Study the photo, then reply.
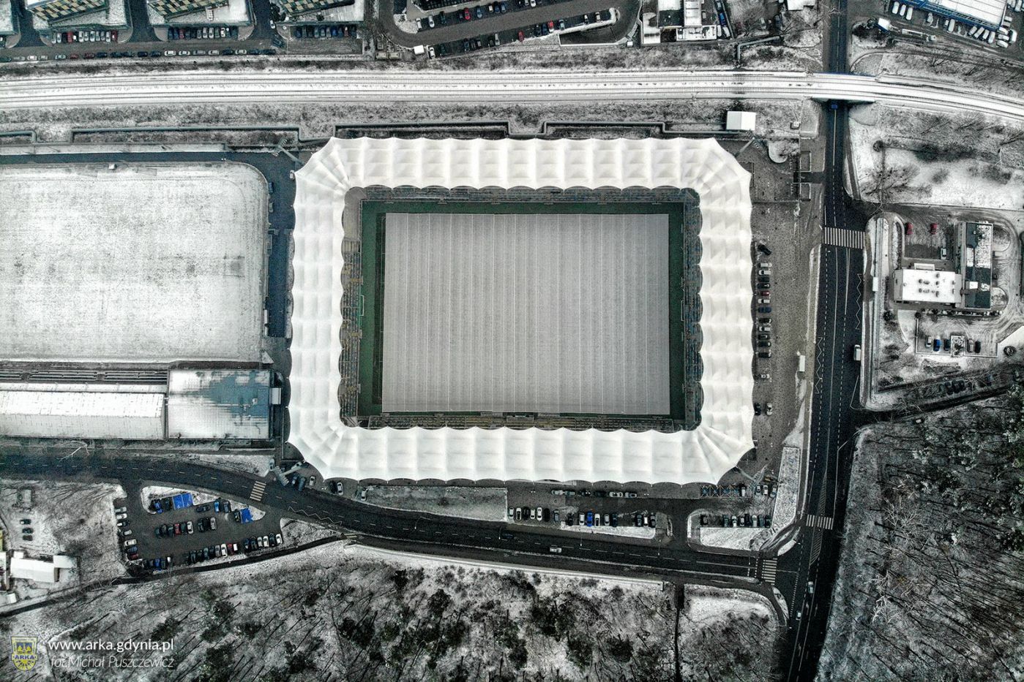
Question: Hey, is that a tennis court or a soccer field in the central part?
soccer field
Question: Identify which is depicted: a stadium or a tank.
stadium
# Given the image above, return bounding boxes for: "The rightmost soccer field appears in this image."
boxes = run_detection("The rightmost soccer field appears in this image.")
[359,202,684,418]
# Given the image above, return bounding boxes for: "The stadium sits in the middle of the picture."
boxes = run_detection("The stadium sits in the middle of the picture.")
[286,136,756,486]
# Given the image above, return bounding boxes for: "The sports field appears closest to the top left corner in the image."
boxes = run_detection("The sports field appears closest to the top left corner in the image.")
[0,162,272,362]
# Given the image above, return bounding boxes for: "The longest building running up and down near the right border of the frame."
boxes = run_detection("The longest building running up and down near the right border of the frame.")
[954,223,994,310]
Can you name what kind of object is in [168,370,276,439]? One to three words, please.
building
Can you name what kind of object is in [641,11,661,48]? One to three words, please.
building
